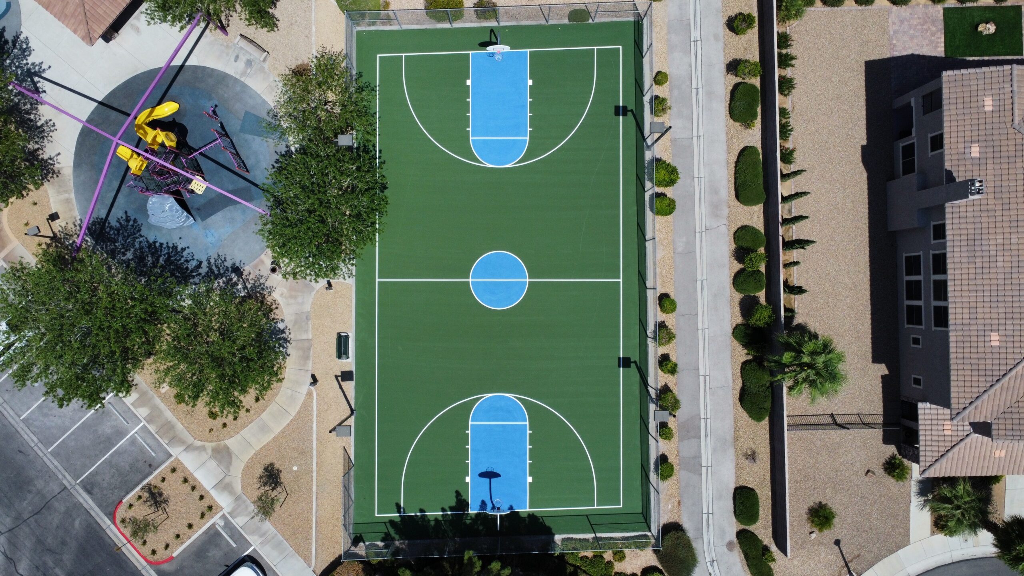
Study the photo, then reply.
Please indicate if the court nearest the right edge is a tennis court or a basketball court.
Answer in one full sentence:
In the photo, the court nearest the right edge shows up as a basketball court.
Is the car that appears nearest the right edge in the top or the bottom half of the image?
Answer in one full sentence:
The bottom half of the photo is where the car that appears nearest the right edge is.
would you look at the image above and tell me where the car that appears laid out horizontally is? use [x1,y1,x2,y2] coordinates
[219,556,264,576]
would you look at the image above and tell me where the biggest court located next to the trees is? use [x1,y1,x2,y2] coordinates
[352,22,650,542]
